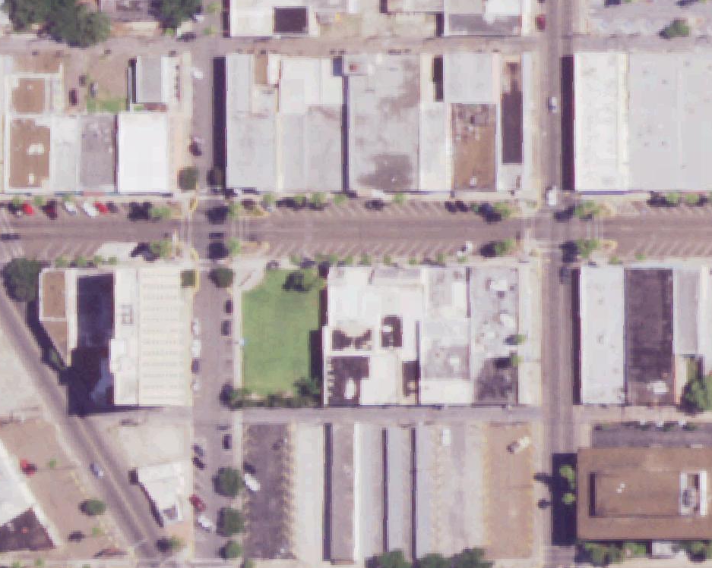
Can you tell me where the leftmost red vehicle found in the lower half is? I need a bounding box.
[21,460,34,477]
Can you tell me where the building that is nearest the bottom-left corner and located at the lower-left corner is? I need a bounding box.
[0,508,56,550]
